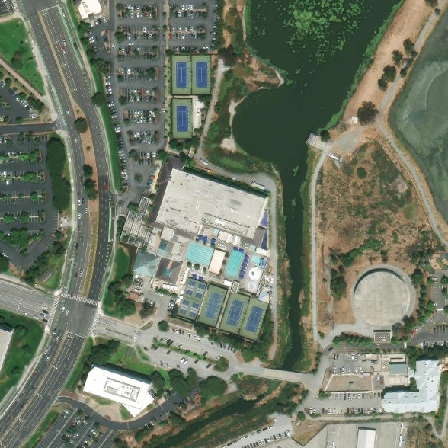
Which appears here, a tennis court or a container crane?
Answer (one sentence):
The image shows a tennis court.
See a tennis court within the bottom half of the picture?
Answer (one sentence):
Yes, a tennis court appears within the bottom half of the picture.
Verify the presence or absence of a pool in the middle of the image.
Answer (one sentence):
Yes, looking in the middle of the image, one can make out a pool.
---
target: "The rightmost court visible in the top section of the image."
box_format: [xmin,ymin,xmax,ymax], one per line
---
[192,55,212,94]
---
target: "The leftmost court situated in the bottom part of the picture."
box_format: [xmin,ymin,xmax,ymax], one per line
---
[178,278,210,321]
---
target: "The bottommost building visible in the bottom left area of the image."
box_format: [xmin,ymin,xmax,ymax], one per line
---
[80,367,155,419]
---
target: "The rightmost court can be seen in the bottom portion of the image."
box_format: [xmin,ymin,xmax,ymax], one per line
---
[239,298,269,338]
